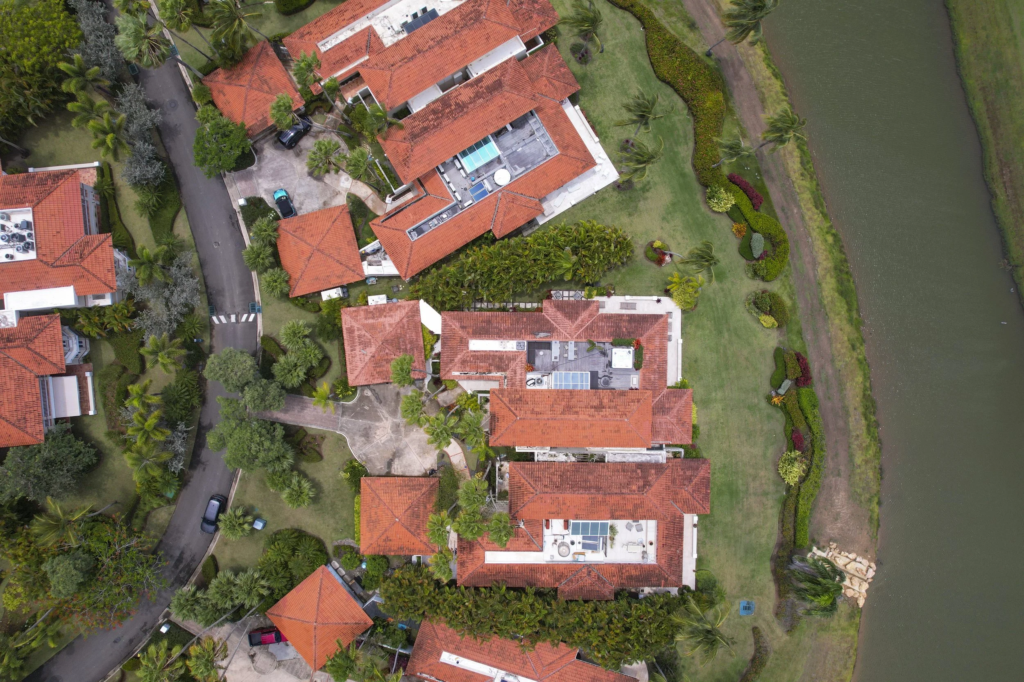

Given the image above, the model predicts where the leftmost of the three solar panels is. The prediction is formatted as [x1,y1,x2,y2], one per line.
[404,8,439,33]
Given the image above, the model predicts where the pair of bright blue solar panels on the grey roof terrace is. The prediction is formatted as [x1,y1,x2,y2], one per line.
[469,181,489,202]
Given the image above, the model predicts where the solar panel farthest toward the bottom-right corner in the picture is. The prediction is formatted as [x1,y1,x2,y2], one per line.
[582,536,598,551]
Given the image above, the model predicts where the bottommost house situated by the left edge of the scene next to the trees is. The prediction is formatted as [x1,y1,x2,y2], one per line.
[0,309,102,448]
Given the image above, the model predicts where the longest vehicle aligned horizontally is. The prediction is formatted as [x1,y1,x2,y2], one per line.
[246,630,292,651]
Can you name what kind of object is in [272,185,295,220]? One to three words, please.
car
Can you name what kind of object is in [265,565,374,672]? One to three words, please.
building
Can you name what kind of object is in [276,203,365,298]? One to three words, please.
building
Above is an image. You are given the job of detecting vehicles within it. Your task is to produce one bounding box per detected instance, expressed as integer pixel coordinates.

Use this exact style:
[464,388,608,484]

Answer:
[272,185,295,220]
[246,630,292,651]
[272,113,313,150]
[197,494,224,537]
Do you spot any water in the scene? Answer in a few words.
Yes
